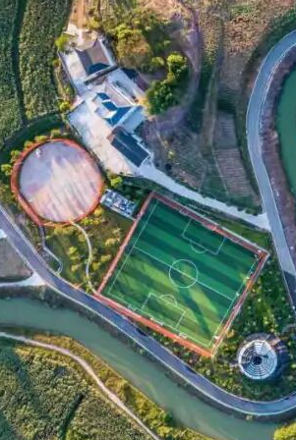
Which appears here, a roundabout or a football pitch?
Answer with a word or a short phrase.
football pitch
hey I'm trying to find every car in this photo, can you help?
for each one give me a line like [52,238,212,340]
[135,328,146,337]
[185,365,196,375]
